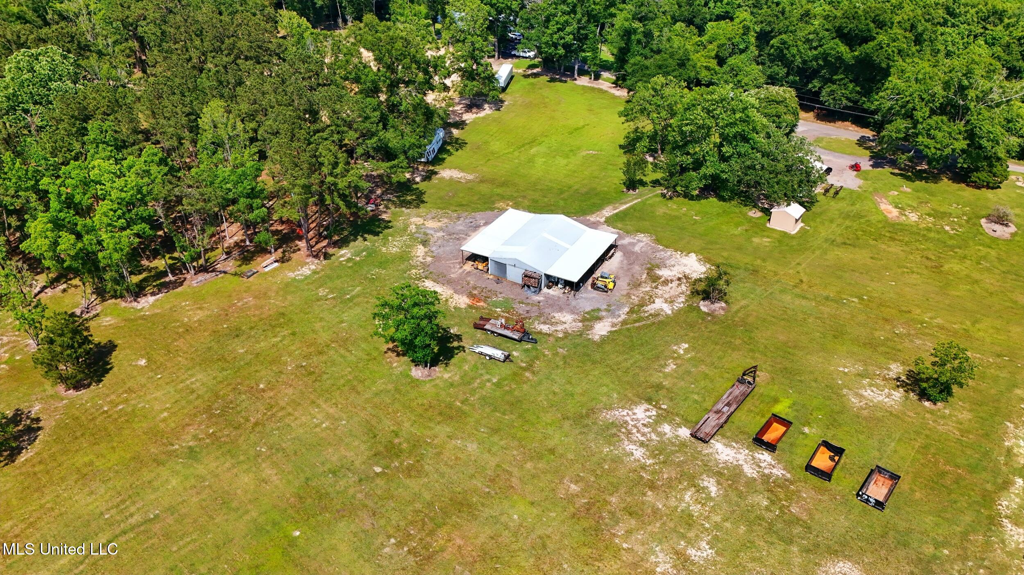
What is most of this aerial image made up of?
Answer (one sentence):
The bulk of the photo consists of grass.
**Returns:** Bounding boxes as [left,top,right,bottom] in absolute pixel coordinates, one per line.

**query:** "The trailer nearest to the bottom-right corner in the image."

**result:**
[689,367,757,444]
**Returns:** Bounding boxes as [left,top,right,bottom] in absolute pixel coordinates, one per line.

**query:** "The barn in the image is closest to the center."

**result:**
[461,208,617,297]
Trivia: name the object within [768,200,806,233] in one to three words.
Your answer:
shed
